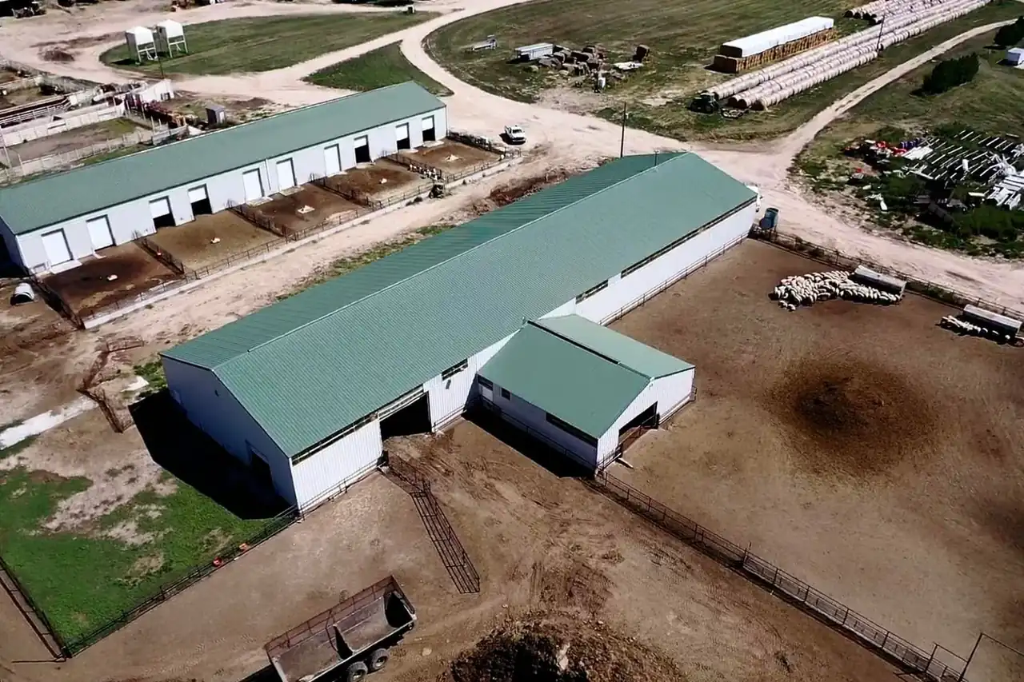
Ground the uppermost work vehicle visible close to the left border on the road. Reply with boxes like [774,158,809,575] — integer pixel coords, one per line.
[28,1,45,15]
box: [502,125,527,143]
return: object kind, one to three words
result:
vehicle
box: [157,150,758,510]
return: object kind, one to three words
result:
barn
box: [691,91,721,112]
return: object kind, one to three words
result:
work vehicle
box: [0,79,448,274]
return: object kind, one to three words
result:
barn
